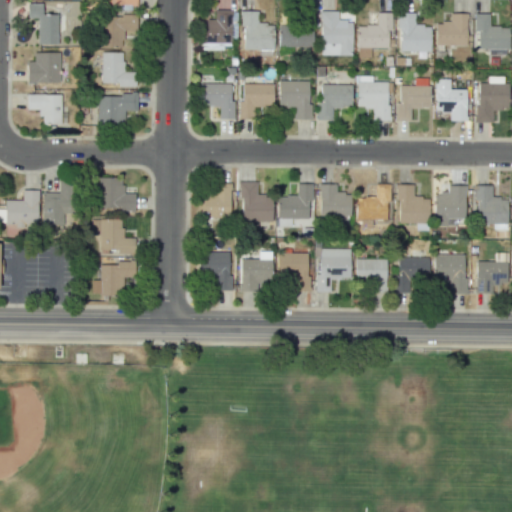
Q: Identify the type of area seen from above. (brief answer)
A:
residential area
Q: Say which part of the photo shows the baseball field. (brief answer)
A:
bottom left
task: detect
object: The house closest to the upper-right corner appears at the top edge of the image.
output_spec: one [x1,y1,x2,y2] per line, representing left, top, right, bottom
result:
[475,14,512,51]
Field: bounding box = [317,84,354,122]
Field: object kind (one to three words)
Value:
house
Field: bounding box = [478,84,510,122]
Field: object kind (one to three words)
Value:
house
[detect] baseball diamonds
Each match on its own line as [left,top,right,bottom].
[0,385,48,480]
